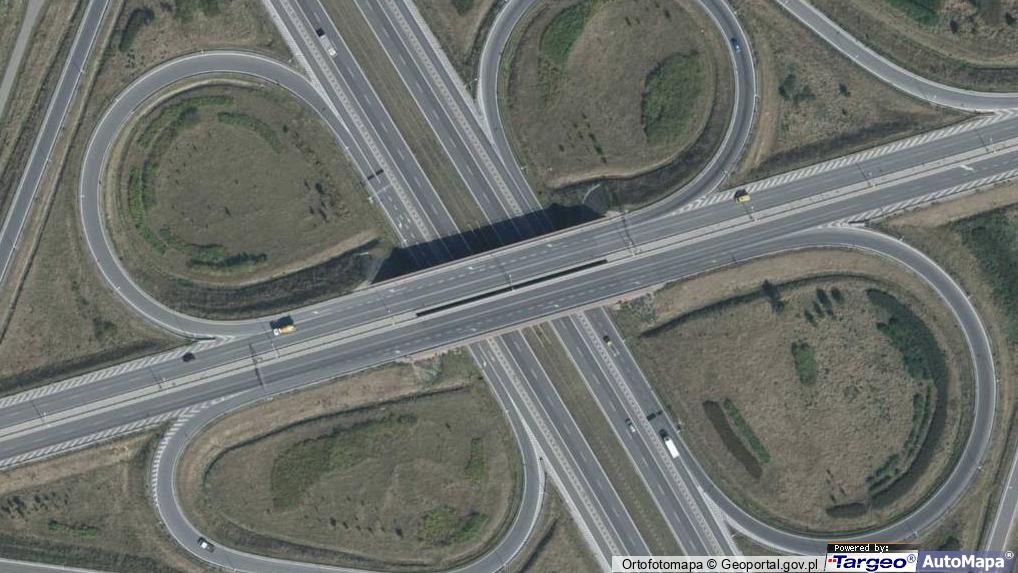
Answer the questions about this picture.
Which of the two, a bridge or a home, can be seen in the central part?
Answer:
bridge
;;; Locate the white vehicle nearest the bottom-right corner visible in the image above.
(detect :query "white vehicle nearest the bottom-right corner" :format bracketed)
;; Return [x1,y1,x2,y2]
[661,434,679,456]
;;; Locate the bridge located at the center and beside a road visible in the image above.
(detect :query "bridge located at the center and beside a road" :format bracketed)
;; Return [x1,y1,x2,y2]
[322,208,666,362]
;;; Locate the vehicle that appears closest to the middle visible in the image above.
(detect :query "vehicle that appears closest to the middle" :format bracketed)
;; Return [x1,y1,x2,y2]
[605,338,619,357]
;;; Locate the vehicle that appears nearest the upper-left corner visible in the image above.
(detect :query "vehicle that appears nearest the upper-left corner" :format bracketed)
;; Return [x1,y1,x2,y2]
[320,34,336,56]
